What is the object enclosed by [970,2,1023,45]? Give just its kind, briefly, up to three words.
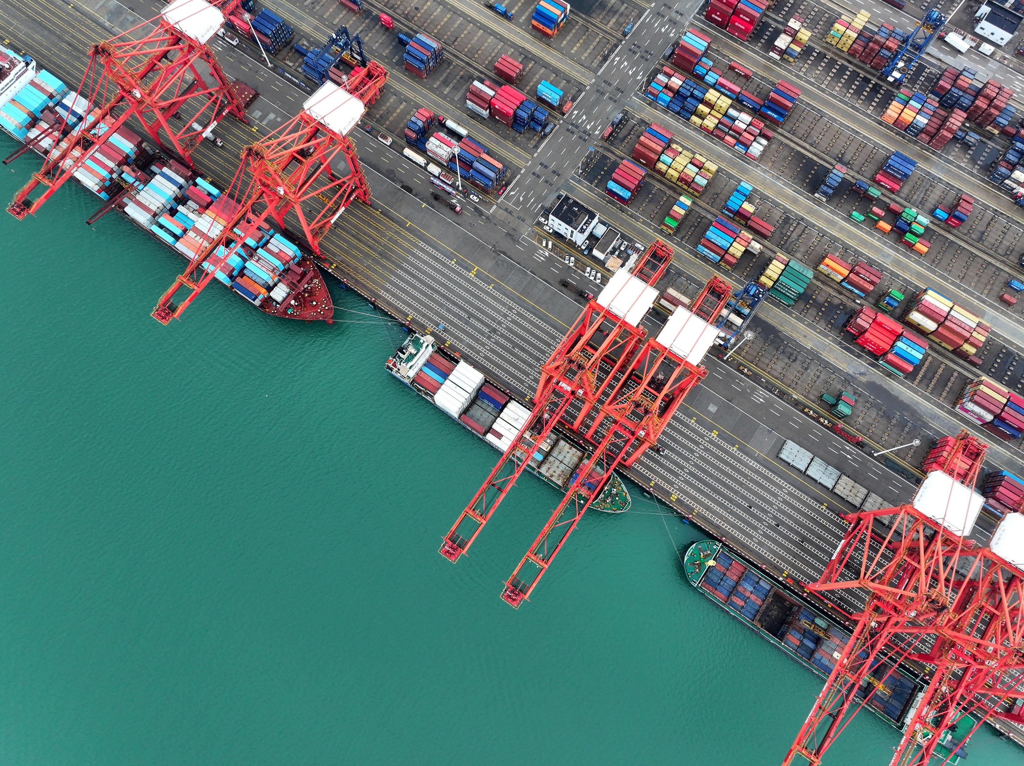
building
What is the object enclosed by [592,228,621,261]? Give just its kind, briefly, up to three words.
building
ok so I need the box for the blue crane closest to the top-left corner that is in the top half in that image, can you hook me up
[308,24,366,88]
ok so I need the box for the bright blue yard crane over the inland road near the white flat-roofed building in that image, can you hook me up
[880,7,947,86]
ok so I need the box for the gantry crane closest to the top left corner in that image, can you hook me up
[0,0,251,235]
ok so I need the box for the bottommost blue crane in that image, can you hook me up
[717,278,769,350]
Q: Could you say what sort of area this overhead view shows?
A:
port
